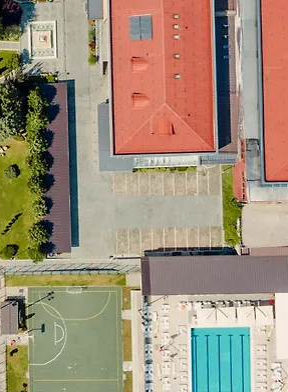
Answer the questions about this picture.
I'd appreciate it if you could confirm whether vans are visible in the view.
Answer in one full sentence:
No, there appears to be no van in this shot.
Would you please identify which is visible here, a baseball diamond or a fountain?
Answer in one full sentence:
There is a fountain in the scene.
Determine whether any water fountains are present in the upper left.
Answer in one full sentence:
Yes, a water fountain appears in the upper left.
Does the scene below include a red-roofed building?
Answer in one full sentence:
Yes, you can see a red-roofed building in this photo.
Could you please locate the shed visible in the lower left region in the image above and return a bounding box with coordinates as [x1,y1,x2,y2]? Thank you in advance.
[1,300,18,335]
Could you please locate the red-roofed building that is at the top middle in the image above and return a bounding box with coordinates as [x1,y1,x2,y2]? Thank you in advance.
[103,0,218,156]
